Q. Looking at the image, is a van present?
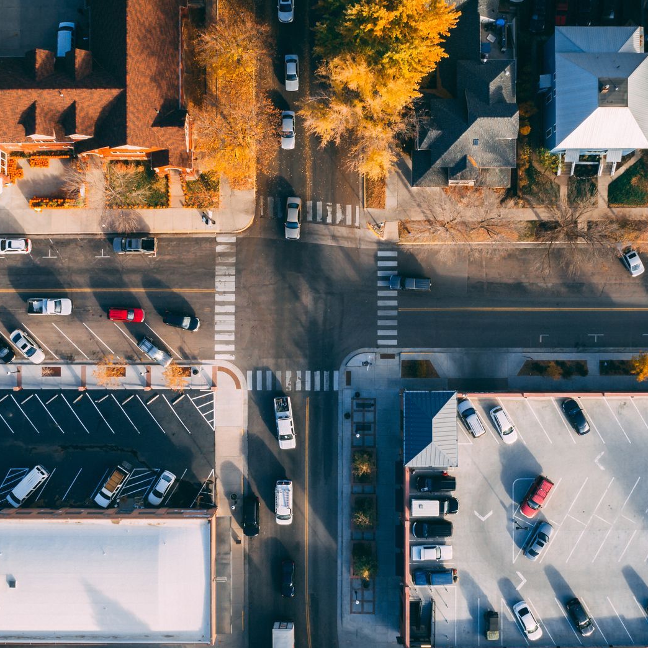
Yes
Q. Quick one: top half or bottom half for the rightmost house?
top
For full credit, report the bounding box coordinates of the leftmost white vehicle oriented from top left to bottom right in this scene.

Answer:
[5,323,49,368]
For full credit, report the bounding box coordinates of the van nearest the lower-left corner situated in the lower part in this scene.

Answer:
[8,461,51,507]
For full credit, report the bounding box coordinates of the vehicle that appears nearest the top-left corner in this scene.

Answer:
[56,21,76,55]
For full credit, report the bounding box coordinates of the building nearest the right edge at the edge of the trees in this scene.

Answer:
[537,27,648,176]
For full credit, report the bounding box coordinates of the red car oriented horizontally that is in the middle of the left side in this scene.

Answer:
[107,305,145,323]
